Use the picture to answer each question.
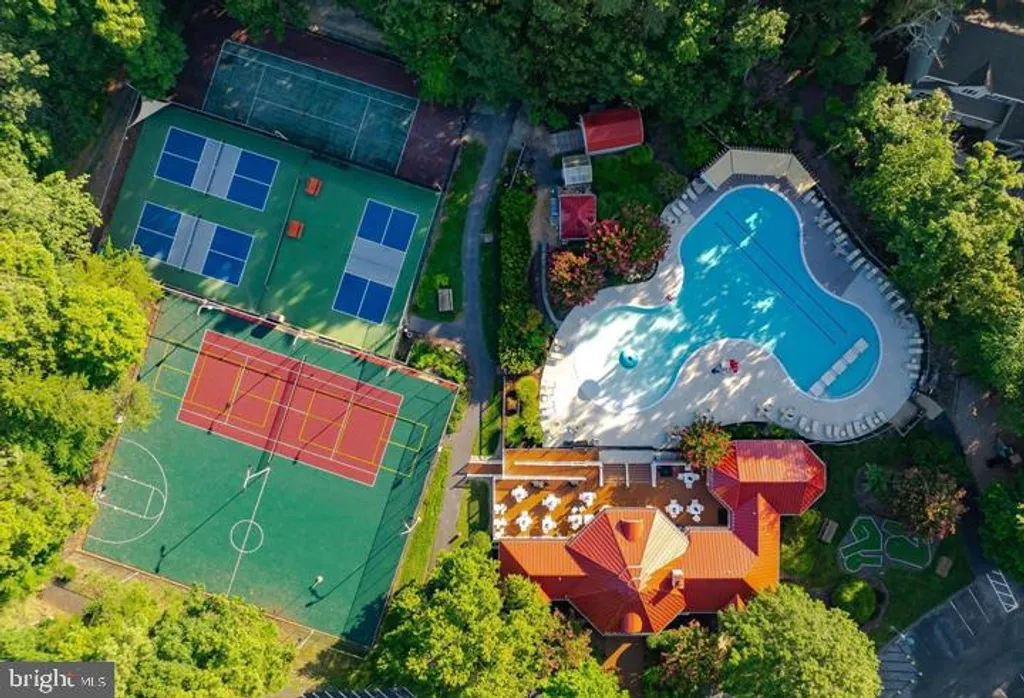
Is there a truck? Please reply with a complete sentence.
No, I can't see a single truck in this photo.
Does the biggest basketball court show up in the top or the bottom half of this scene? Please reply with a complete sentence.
Seen from above, the biggest basketball court lies in the bottom half of the view.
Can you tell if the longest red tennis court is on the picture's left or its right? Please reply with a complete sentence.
The longest red tennis court is on the left side of the image.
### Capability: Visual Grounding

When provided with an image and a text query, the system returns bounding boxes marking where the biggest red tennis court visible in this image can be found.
[176,330,404,486]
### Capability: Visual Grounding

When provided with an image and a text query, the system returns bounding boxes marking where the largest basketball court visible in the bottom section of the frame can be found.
[82,291,458,649]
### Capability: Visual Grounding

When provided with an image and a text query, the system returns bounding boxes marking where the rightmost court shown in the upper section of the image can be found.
[332,198,419,326]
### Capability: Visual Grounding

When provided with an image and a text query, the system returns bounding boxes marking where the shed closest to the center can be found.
[559,194,598,242]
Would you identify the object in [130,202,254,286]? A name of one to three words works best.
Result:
sports court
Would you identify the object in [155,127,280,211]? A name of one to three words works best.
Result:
sports court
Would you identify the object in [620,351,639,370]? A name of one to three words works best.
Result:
fountain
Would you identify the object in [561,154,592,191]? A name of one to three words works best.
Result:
greenhouse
